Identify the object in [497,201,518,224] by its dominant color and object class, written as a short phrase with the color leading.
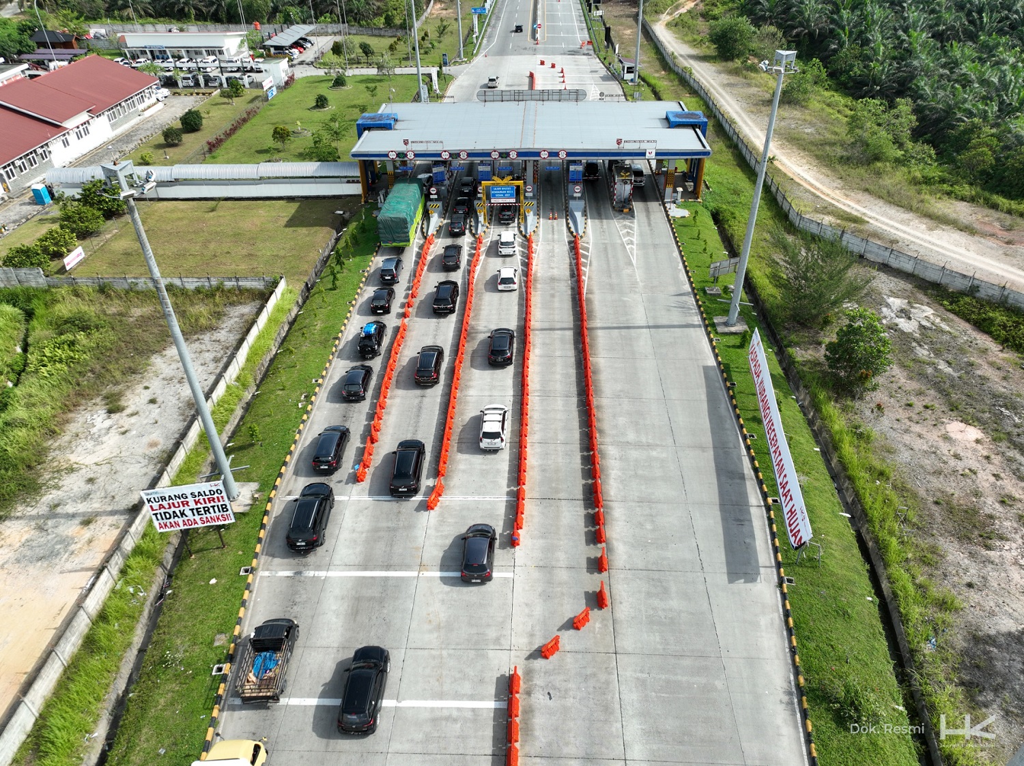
black car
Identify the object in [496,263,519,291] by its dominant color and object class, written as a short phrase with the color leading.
white car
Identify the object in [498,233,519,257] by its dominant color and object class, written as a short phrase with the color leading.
white car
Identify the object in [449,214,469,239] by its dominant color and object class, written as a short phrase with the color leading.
black car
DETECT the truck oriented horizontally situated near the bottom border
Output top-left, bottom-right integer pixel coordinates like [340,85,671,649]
[194,728,279,766]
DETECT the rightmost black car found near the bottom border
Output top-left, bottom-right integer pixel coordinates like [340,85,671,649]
[340,639,395,734]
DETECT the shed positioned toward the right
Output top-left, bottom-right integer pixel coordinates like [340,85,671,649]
[618,56,644,82]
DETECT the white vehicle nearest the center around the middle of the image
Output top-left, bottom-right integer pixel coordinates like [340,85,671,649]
[478,400,511,451]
